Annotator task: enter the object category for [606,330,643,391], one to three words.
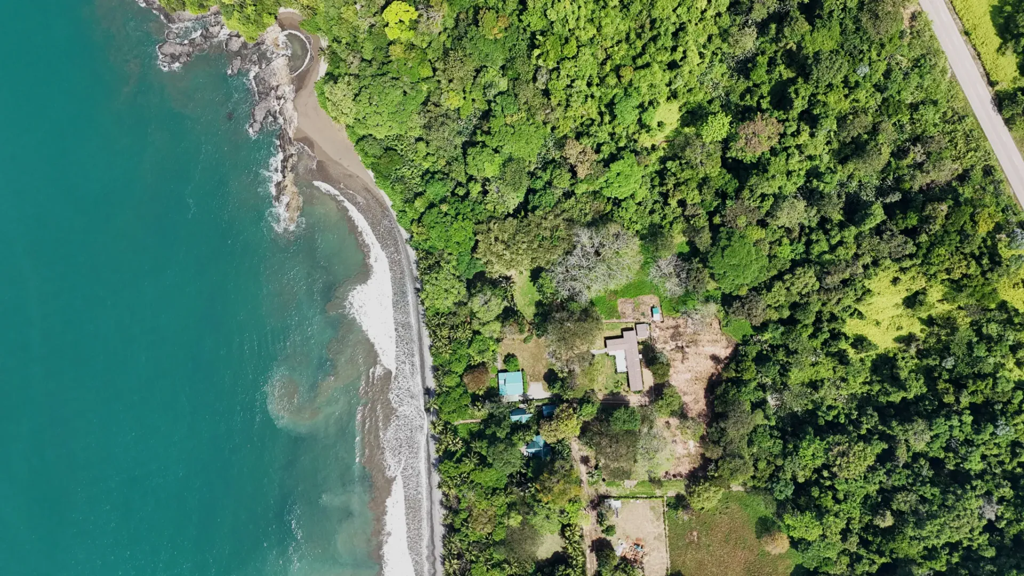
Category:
house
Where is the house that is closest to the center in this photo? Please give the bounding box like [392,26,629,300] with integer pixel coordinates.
[498,372,523,402]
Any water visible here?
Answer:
Yes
